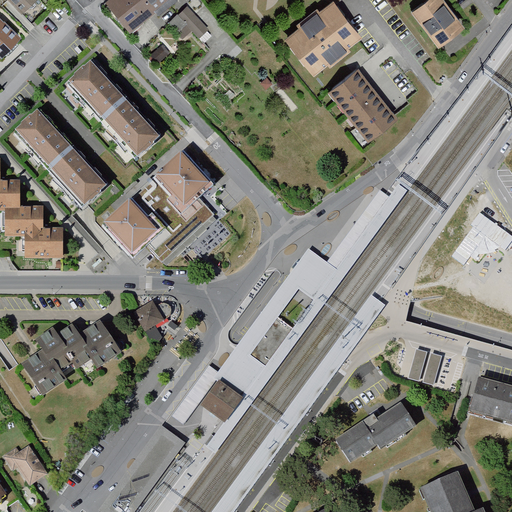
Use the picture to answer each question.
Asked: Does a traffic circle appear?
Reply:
No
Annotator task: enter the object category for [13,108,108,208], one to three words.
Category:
house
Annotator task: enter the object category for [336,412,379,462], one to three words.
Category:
building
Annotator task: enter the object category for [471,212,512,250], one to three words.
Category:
shed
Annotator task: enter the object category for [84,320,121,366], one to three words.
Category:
house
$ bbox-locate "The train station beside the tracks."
[155,25,512,512]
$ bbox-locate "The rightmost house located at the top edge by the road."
[412,0,464,48]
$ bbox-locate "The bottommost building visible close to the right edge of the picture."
[418,470,487,512]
